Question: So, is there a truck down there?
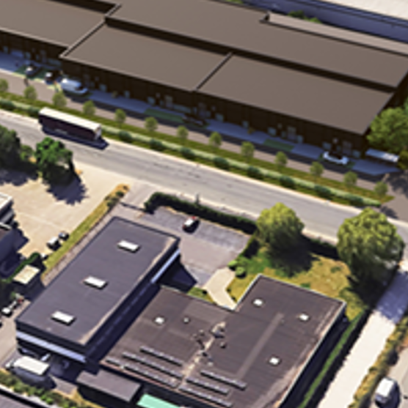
Yes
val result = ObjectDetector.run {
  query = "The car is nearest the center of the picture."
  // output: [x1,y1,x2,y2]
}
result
[180,211,203,229]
